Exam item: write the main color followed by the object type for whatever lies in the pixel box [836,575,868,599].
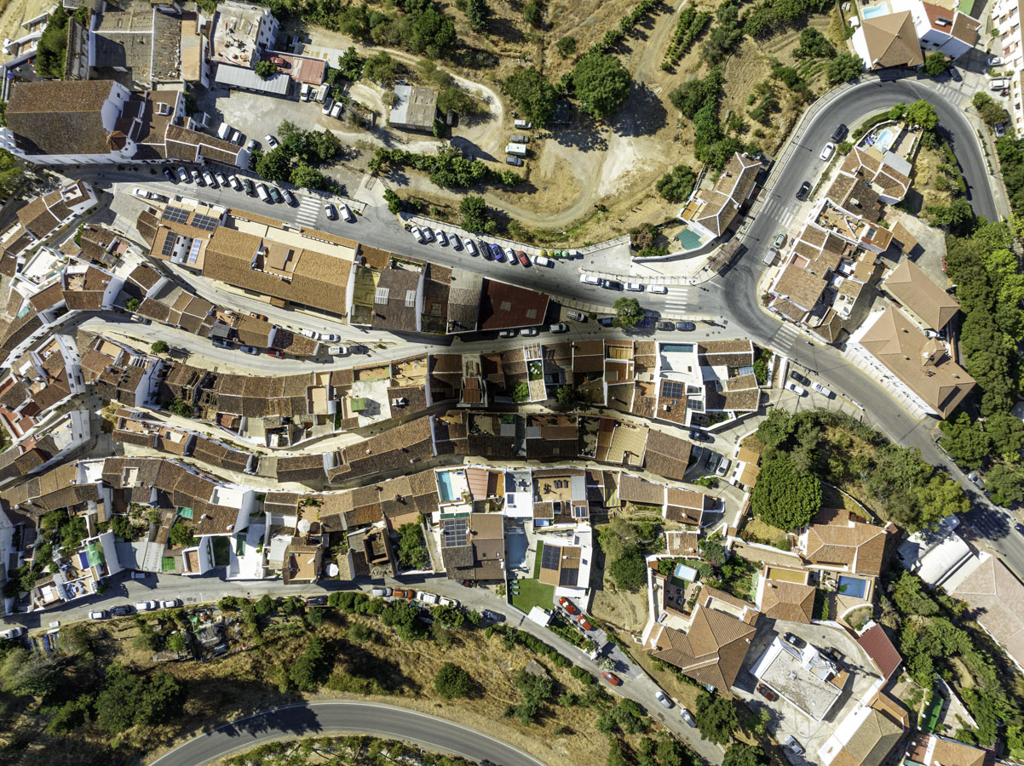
blue swimming pool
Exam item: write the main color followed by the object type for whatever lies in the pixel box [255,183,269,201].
white car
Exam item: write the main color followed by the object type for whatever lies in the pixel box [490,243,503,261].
blue vehicle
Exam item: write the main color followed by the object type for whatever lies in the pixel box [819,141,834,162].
white car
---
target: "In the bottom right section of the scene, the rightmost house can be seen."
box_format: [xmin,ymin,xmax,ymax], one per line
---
[943,551,1024,673]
